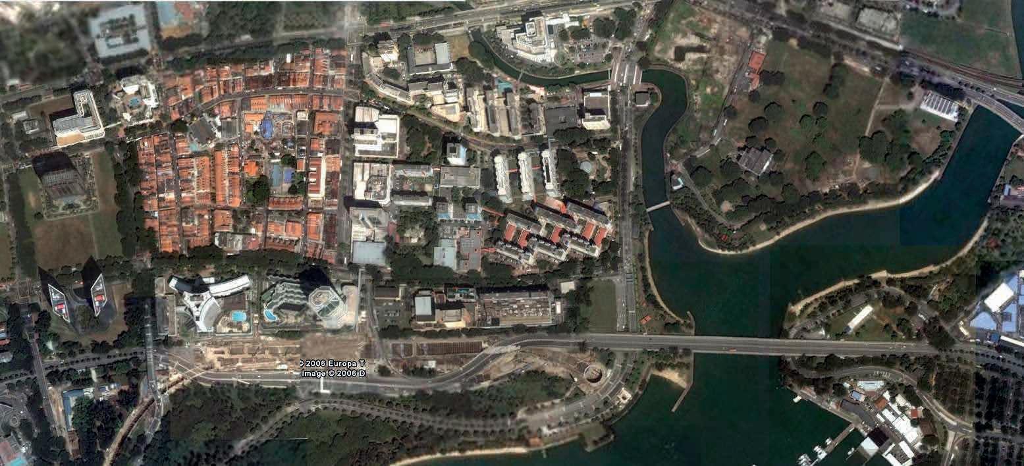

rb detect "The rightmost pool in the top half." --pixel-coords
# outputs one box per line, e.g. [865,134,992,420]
[495,78,514,93]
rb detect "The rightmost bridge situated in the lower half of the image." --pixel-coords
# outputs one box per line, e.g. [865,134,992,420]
[691,334,786,355]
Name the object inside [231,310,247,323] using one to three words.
swimming pool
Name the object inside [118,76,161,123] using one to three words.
building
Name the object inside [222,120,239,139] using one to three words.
shed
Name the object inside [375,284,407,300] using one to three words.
building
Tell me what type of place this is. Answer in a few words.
residential area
